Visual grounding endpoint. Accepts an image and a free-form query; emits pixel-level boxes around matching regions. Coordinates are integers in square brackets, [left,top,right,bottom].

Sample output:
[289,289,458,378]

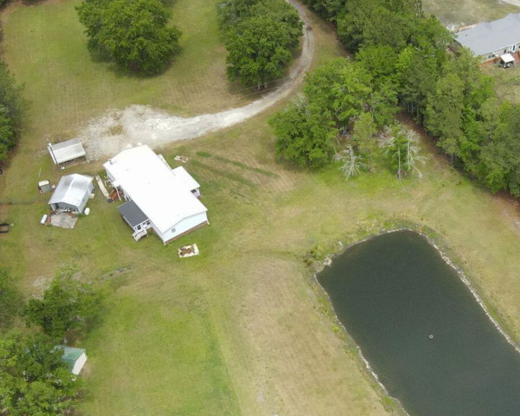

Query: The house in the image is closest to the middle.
[103,148,214,250]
